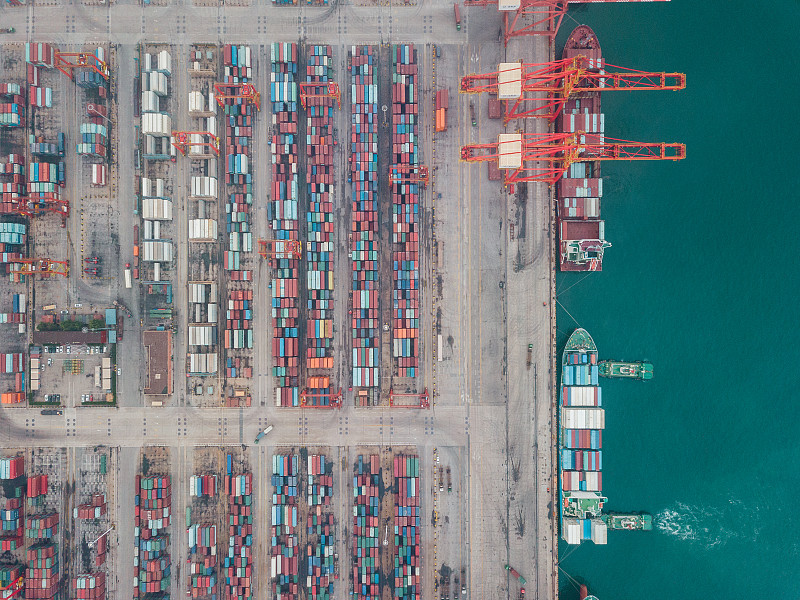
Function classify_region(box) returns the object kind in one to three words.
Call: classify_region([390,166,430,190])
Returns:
container crane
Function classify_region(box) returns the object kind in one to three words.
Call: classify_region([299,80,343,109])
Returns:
container crane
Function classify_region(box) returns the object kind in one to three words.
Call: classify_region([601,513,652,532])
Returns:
boat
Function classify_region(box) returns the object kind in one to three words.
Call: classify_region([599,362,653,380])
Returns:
boat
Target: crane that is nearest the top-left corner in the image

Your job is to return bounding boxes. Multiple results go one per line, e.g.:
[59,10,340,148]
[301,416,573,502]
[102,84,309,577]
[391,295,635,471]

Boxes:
[55,49,112,80]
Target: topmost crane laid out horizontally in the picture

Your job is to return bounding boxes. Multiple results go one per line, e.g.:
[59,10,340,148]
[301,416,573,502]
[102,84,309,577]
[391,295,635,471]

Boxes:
[461,0,687,49]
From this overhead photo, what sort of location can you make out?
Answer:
port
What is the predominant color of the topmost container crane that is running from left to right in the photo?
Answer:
red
